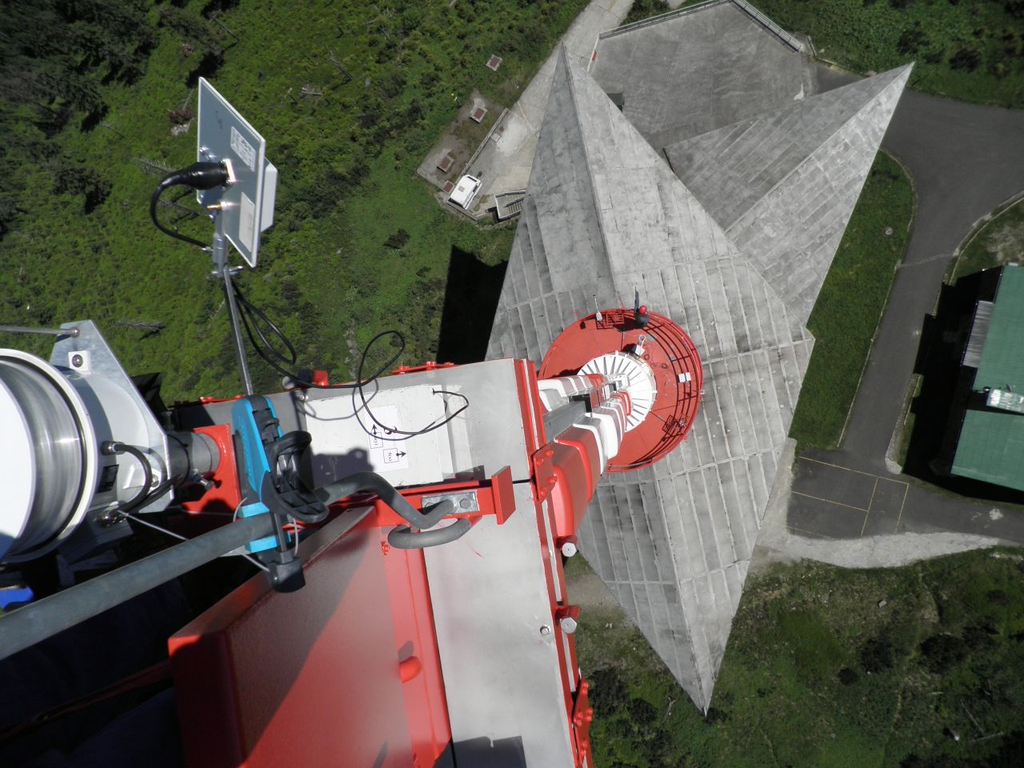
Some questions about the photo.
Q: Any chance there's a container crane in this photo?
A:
No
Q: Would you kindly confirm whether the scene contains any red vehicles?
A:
No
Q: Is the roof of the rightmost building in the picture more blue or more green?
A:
green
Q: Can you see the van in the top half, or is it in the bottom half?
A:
top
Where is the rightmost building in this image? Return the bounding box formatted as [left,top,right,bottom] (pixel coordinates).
[930,264,1024,493]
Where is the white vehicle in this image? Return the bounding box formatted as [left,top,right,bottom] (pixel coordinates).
[446,171,479,211]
